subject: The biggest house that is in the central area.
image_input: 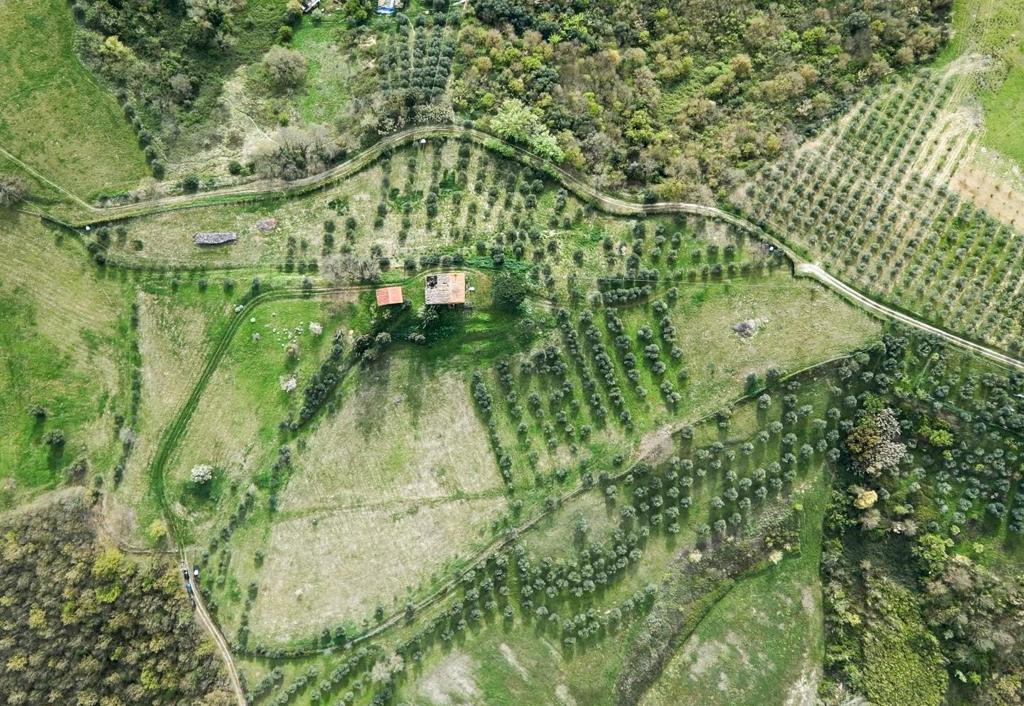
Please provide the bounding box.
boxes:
[425,271,466,305]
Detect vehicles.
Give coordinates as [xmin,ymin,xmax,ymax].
[187,582,195,595]
[191,597,199,609]
[183,568,191,580]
